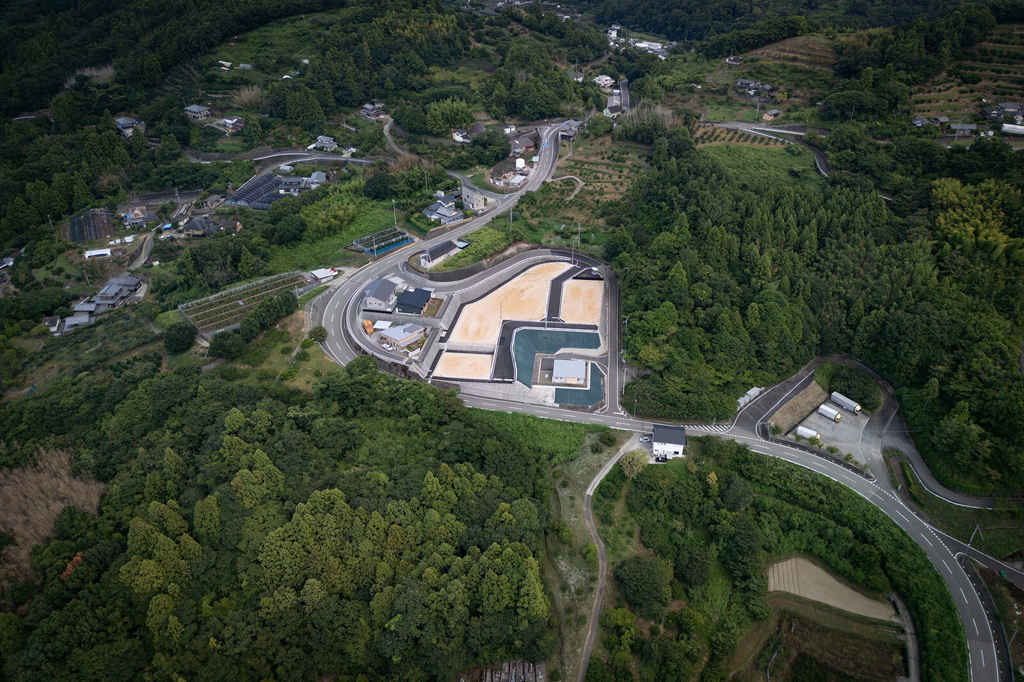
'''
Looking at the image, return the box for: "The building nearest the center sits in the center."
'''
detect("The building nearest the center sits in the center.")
[551,358,586,384]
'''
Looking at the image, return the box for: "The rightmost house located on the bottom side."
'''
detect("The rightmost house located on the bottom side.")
[653,421,687,461]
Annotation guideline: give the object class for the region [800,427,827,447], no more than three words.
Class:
vehicle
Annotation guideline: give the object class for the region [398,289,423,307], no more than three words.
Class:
solar array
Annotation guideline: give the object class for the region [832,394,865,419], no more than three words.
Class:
truck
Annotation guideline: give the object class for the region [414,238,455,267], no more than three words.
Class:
building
